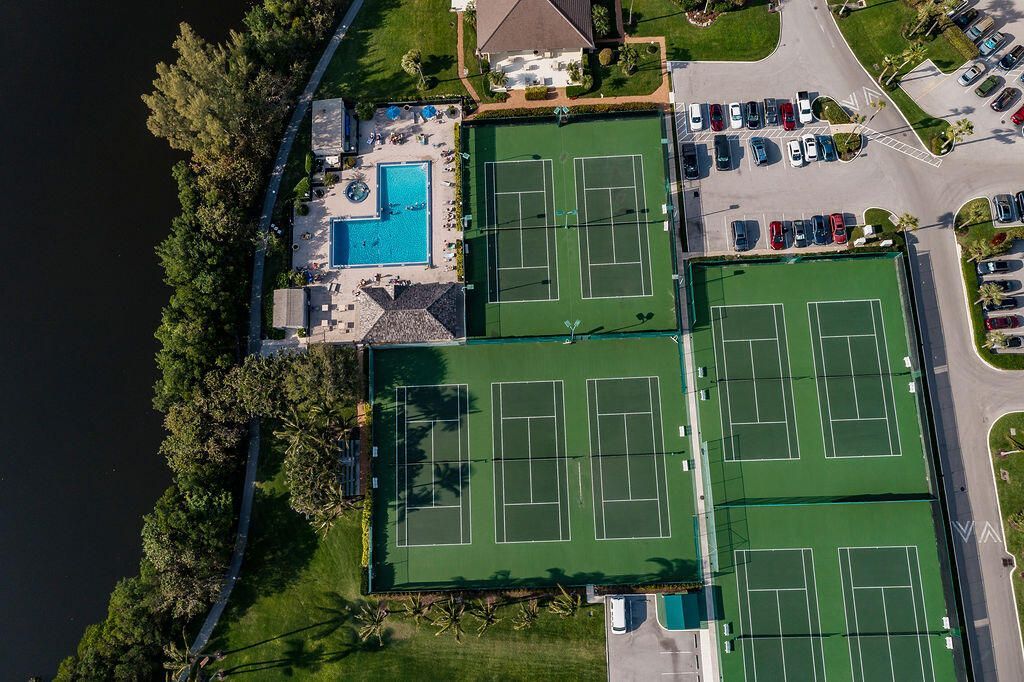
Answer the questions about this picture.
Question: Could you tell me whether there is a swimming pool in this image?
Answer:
Yes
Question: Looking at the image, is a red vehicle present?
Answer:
Yes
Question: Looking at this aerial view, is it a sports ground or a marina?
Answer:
sports ground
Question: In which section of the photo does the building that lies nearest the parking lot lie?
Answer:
top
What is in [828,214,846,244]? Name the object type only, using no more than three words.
car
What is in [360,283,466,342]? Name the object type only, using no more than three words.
building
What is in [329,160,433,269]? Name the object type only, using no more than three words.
swimming pool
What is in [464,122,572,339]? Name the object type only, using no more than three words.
tennis court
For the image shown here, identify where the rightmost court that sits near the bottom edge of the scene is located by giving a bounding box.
[818,502,958,682]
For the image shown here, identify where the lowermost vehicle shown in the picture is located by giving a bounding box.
[610,594,627,633]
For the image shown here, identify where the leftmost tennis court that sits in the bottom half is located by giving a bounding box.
[372,344,485,592]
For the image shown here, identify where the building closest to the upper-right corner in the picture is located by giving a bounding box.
[477,0,594,59]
